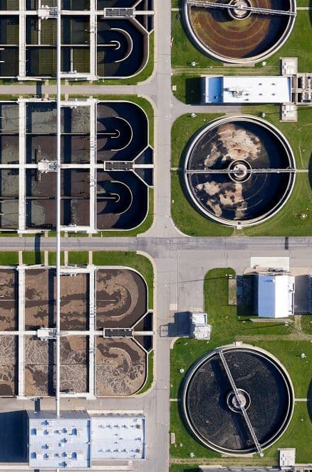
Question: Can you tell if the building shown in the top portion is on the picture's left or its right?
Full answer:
The building shown in the top portion sits on the right side.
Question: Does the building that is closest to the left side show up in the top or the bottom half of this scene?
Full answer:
The building that is closest to the left side sits in the bottom half of the picture.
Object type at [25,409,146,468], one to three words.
building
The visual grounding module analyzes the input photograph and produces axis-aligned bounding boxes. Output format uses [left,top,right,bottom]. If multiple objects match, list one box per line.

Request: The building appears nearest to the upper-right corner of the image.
[201,75,292,105]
